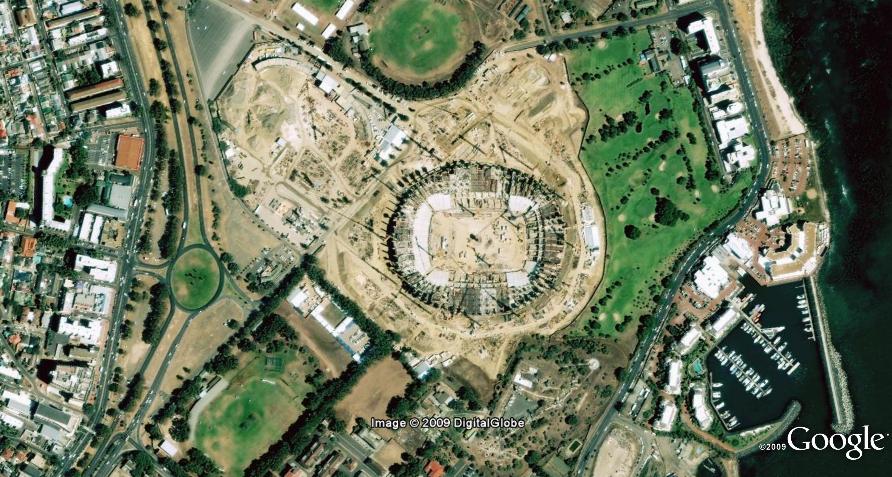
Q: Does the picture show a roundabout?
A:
Yes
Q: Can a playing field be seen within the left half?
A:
Yes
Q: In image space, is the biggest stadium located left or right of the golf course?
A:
on the left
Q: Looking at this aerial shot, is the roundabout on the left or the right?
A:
left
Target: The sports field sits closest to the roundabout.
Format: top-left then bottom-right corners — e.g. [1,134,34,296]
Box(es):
[188,377,295,477]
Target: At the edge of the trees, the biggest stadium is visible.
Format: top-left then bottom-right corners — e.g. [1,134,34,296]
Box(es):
[387,159,565,324]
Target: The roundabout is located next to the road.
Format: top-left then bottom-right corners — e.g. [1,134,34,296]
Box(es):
[166,243,225,312]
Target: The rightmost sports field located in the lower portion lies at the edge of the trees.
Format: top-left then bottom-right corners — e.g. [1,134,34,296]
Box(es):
[335,359,413,432]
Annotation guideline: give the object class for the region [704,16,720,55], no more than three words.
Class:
building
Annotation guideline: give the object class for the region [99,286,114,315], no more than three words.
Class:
building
